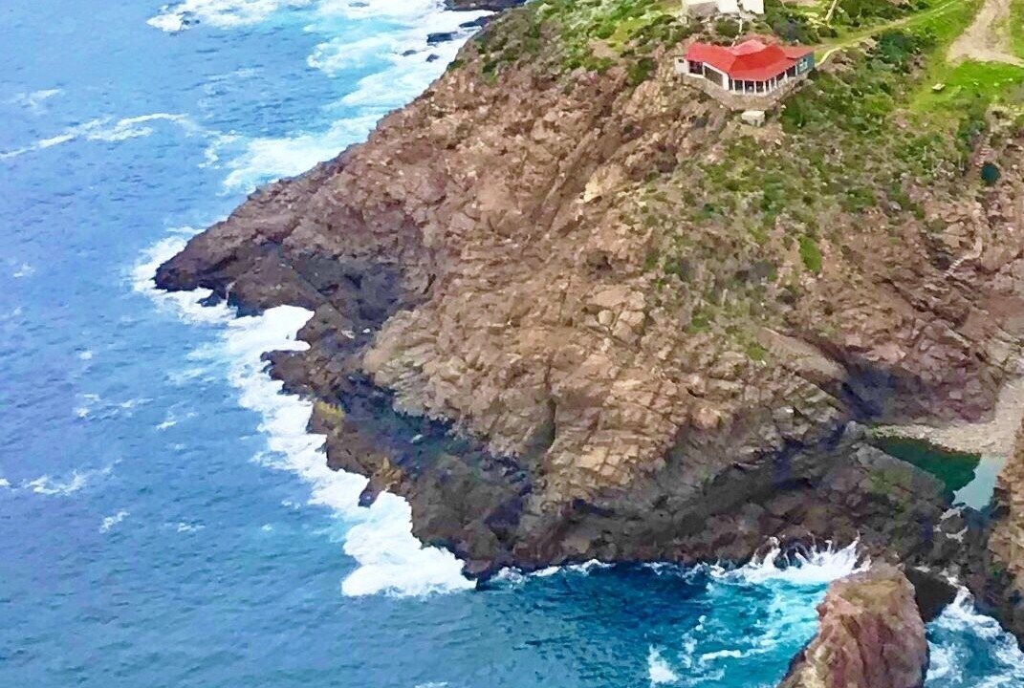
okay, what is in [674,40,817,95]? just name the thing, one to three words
building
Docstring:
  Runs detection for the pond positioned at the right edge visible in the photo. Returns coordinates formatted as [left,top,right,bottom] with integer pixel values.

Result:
[882,433,1010,511]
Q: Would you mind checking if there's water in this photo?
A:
Yes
